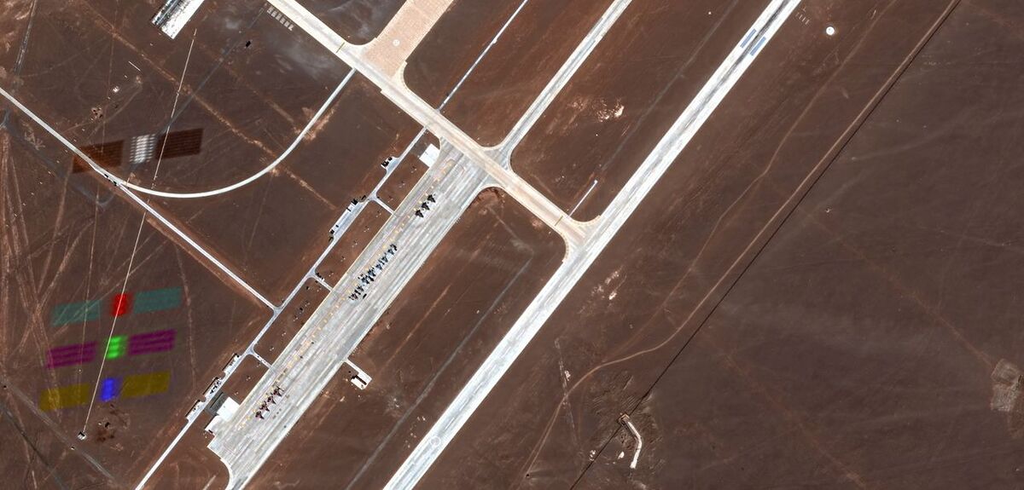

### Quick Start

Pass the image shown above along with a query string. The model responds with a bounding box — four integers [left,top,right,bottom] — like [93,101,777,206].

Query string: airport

[204,0,801,490]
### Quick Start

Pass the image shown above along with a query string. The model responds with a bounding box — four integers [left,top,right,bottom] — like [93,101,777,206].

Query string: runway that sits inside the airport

[384,0,801,490]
